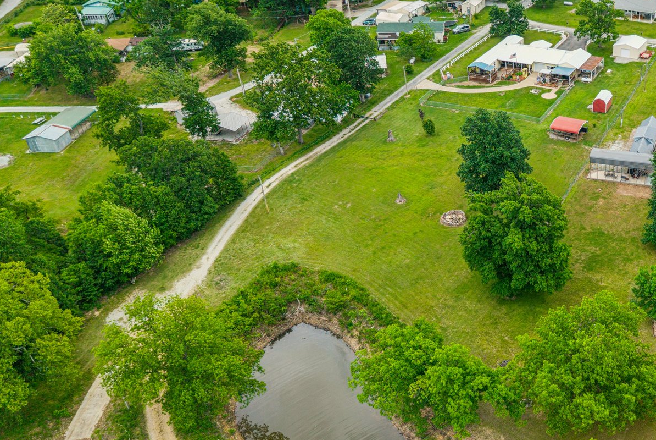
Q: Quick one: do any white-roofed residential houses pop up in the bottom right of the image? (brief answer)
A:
No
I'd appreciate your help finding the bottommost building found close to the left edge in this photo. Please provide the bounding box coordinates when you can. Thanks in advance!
[21,101,97,153]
